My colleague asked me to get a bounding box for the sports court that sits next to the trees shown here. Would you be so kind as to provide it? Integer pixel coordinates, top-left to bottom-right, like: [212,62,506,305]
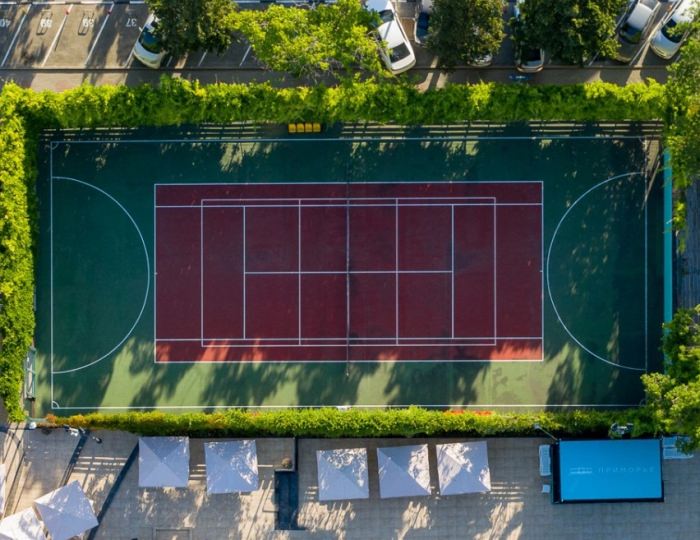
[27,123,662,413]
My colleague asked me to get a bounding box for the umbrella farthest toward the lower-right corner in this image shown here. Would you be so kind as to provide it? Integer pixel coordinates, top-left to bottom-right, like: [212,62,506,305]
[436,440,490,494]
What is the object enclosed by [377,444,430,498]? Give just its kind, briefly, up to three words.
umbrella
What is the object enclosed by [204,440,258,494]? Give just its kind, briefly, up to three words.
umbrella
